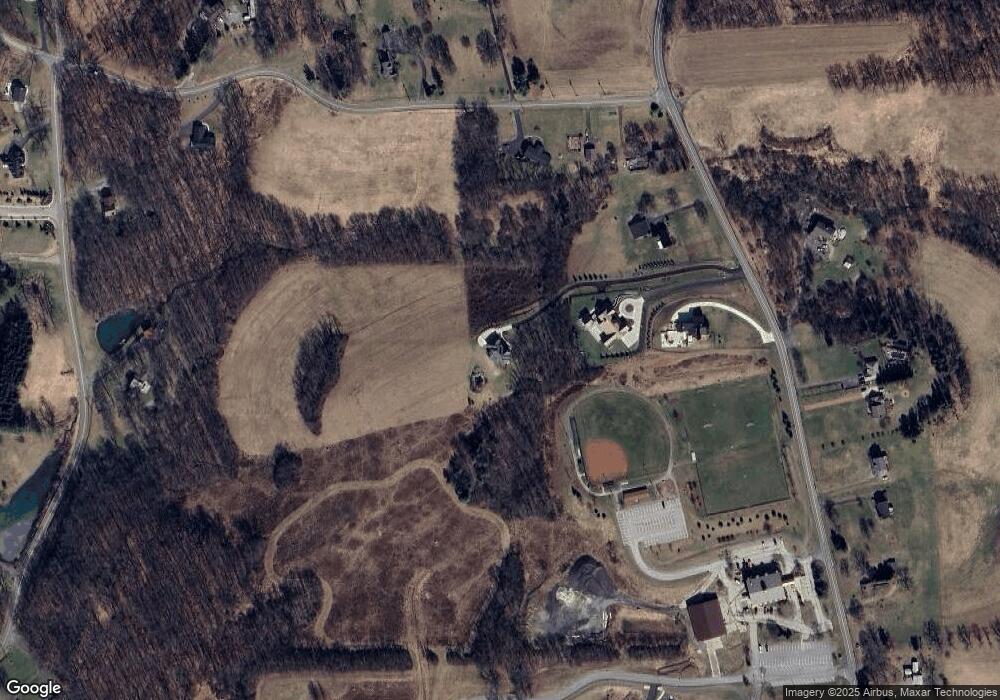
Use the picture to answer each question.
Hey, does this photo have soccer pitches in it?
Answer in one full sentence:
Yes, there's a soccer pitch down there.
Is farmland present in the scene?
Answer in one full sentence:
Yes, farmland shows up in the scene.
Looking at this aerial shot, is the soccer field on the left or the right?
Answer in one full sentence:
The soccer field sits on the right side.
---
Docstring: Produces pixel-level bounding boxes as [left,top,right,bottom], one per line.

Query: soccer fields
[681,376,790,514]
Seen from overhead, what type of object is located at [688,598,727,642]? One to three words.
building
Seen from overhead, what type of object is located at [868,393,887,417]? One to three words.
house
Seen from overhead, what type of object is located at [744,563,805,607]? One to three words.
building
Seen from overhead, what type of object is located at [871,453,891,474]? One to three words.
house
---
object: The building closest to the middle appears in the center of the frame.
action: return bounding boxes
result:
[483,334,512,364]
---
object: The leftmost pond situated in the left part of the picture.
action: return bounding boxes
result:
[0,449,62,560]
